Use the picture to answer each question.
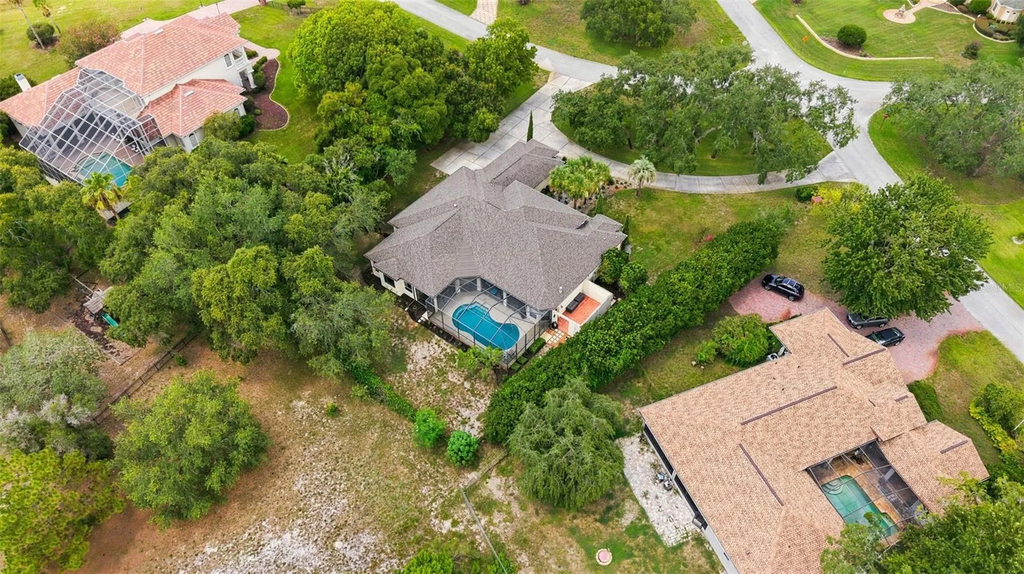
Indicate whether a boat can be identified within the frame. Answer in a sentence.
No, the frame has no boat in it.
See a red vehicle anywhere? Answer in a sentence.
No, no red vehicle can be seen from above.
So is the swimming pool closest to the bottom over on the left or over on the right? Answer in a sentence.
The swimming pool closest to the bottom sits on the right side.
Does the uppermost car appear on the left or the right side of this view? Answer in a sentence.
The uppermost car sits on the right side.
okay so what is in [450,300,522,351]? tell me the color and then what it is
blue swimming pool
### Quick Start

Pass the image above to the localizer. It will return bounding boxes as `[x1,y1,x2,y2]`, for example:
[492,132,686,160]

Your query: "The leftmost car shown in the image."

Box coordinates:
[762,274,806,301]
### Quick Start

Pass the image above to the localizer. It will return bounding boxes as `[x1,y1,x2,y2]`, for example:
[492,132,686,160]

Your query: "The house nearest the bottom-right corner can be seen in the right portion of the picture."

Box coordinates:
[639,306,987,574]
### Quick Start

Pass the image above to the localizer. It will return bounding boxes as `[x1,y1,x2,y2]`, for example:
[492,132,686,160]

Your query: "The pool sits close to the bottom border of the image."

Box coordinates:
[819,473,902,556]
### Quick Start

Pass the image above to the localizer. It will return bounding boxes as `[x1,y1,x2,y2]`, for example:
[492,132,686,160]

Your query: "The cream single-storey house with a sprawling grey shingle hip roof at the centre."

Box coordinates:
[365,138,629,323]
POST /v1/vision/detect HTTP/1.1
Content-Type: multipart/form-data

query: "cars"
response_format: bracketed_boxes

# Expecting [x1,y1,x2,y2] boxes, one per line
[762,274,806,301]
[847,308,891,329]
[862,325,905,347]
